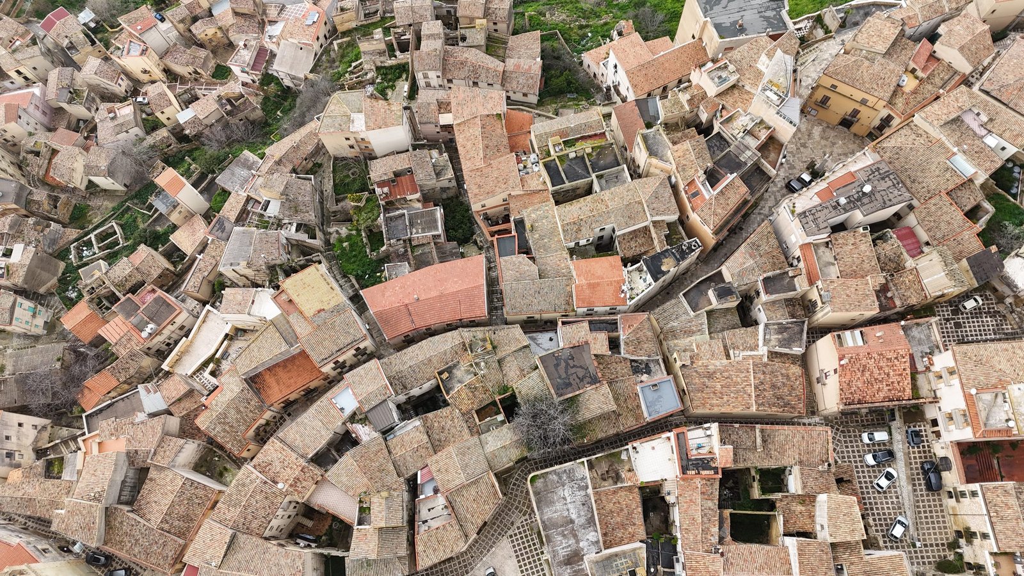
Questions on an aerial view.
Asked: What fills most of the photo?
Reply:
buildings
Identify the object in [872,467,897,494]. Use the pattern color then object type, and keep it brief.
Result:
white car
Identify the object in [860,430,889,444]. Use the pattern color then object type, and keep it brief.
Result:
white car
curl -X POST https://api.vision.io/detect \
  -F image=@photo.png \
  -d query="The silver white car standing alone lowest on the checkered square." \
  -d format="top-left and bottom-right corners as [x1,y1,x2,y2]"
[885,514,907,543]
